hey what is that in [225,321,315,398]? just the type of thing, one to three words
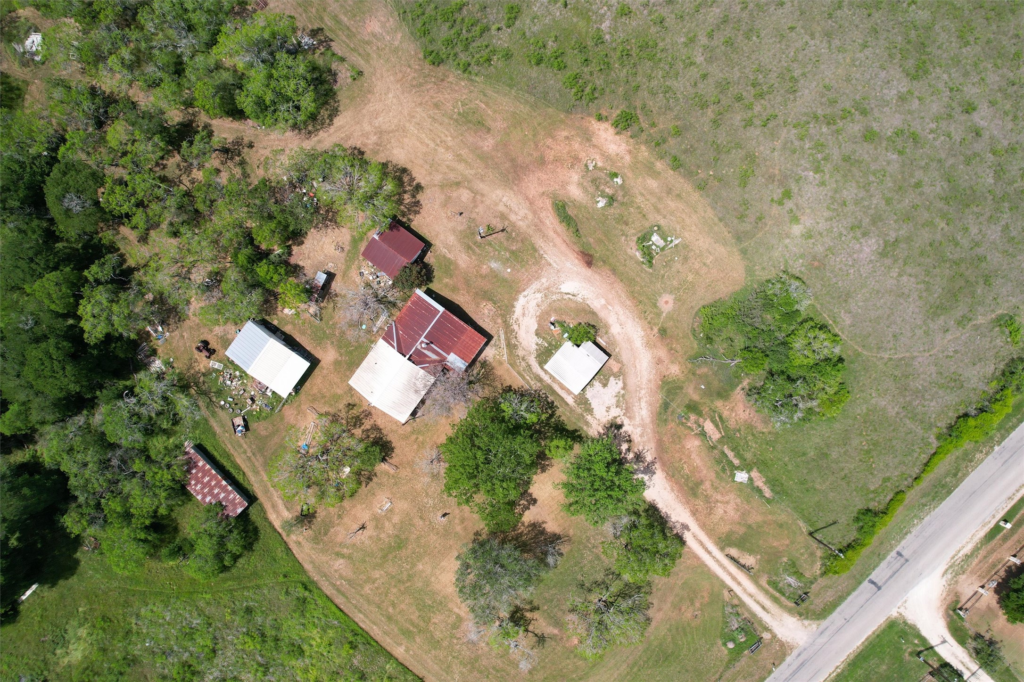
building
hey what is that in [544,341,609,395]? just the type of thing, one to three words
shed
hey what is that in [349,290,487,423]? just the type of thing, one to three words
house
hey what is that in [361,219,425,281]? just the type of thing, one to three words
house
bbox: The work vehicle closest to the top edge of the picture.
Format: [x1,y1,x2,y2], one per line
[192,339,216,361]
